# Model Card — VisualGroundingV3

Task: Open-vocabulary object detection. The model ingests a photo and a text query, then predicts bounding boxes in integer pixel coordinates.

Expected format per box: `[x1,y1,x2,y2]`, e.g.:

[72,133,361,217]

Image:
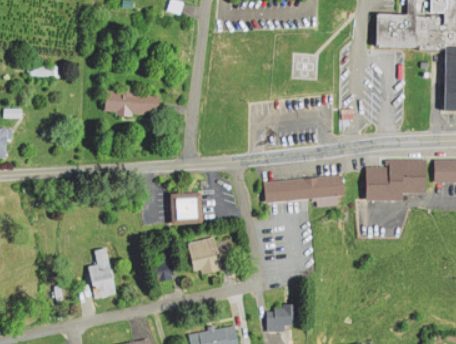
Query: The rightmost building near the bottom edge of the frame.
[268,304,294,332]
